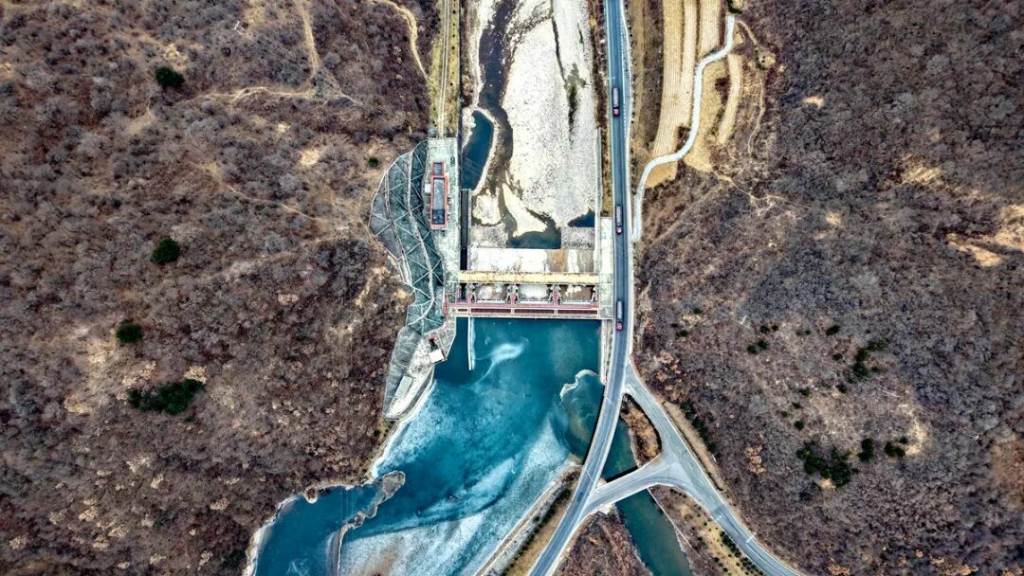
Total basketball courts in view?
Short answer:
0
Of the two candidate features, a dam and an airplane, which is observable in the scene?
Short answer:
dam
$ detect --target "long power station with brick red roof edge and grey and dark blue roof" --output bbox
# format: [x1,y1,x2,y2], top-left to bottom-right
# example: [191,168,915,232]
[425,163,447,227]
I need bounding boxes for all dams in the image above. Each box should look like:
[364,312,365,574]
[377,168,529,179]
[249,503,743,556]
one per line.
[445,190,613,370]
